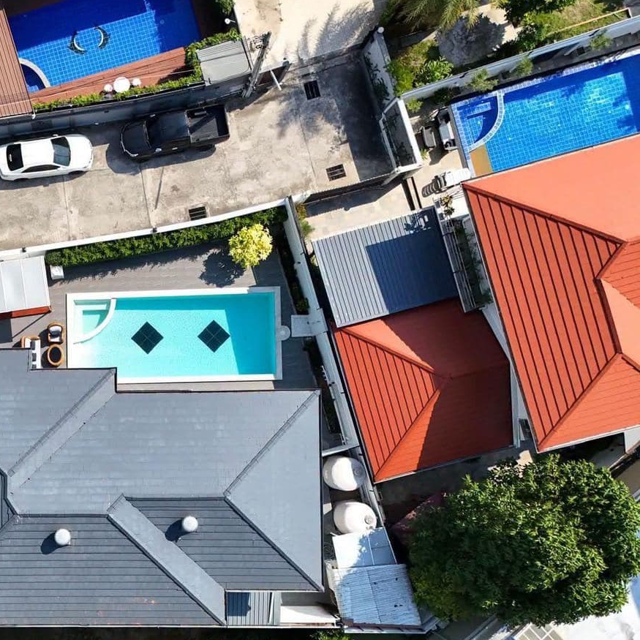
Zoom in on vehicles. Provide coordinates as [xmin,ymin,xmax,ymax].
[120,106,230,160]
[0,133,91,184]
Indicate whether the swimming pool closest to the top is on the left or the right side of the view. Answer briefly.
left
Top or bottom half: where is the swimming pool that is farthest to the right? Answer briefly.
top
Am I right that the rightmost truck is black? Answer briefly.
Yes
